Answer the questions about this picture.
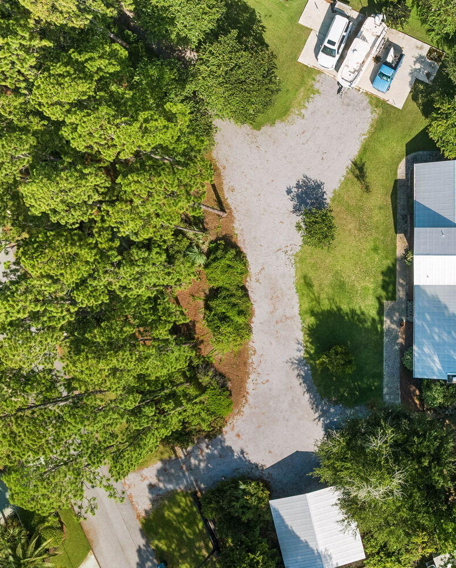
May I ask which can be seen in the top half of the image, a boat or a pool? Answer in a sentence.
The feature located in the top half of the image is a boat.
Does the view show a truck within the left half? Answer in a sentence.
No, looking within the left half, there is no truck.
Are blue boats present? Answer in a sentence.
No, no blue boat is visible in the view.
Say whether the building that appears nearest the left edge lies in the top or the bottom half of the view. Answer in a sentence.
The building that appears nearest the left edge is in the bottom half of the image.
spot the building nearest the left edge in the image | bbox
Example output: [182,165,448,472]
[270,483,365,568]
